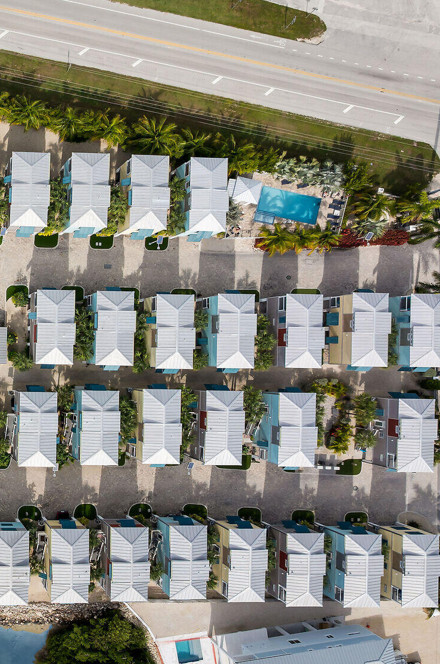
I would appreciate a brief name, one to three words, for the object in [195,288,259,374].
house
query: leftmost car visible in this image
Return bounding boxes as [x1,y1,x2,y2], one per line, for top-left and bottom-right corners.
[57,502,71,521]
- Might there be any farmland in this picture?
No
